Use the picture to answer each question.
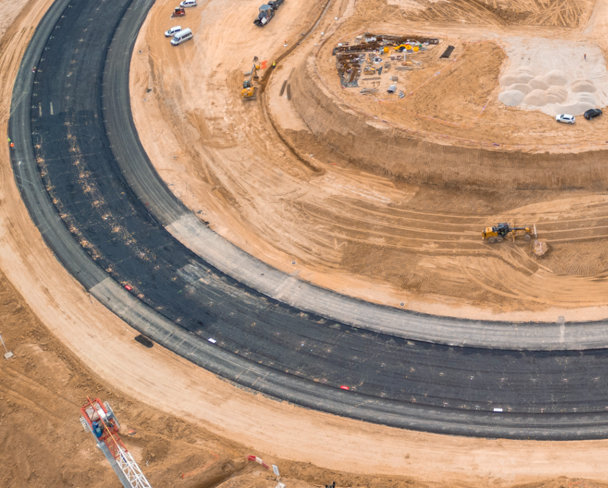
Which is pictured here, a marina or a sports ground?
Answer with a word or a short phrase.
sports ground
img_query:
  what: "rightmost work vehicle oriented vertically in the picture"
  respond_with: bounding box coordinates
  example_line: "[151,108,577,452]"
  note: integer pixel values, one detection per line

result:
[240,60,258,100]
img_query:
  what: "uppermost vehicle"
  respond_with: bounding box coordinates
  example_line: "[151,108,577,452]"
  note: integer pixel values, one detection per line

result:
[169,5,184,17]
